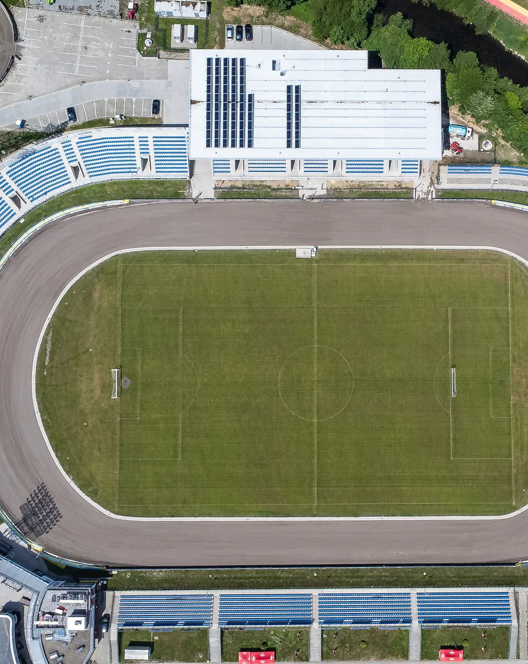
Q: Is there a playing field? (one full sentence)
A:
Yes, you can see a playing field in this photo.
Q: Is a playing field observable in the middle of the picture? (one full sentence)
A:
Yes, you'll find a playing field in the middle of the picture.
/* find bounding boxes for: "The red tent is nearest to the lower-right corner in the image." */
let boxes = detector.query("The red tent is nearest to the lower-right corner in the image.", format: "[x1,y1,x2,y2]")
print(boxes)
[438,647,463,661]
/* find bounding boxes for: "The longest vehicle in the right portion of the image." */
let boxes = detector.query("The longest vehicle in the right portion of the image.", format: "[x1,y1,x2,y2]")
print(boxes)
[447,123,477,138]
